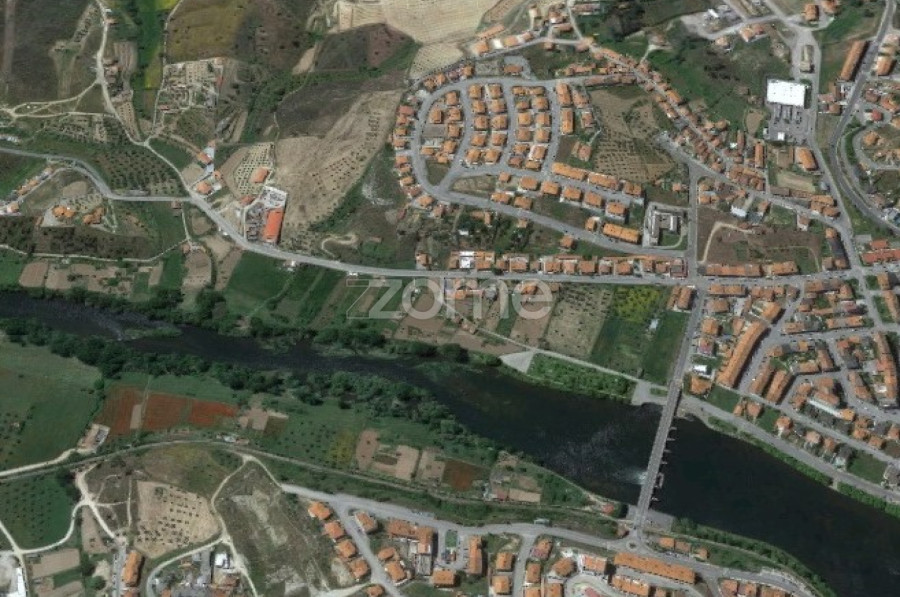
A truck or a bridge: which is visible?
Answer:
bridge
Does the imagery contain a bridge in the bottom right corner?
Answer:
Yes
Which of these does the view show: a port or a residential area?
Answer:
residential area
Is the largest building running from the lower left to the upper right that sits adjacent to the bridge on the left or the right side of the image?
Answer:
right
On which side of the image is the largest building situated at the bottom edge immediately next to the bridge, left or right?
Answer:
right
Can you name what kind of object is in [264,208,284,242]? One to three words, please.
building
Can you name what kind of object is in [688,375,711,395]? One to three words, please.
house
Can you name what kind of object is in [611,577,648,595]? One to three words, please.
building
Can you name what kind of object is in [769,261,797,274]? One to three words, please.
house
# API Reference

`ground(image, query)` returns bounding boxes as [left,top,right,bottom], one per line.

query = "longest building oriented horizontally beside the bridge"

[613,554,694,585]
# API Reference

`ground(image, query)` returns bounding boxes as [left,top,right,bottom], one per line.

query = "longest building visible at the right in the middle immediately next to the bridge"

[718,318,768,385]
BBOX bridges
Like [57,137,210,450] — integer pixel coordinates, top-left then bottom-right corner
[632,368,685,531]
